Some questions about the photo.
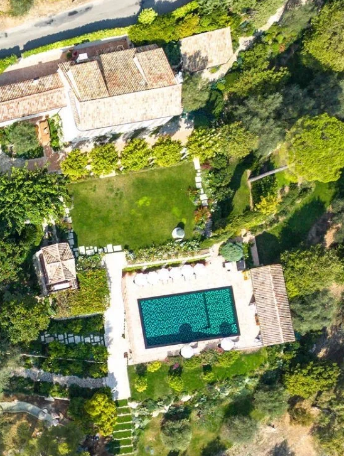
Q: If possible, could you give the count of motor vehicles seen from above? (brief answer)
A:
0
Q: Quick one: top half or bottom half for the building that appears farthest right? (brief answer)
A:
bottom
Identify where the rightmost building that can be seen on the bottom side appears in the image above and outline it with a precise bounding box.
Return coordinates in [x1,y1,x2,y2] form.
[243,264,296,345]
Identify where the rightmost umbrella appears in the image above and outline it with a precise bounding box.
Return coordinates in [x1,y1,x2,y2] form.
[217,337,234,352]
